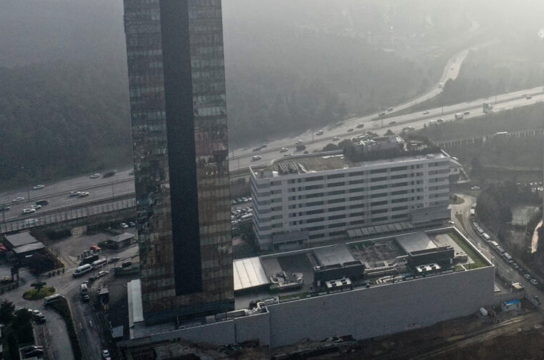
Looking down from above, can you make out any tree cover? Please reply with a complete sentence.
Yes, there's tree cover in this view.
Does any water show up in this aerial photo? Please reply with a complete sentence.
No, the picture contains no water.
